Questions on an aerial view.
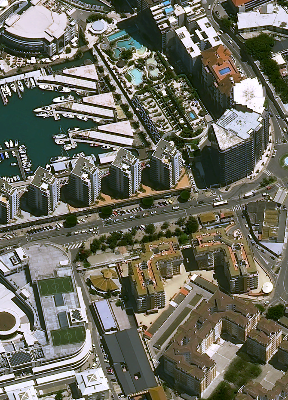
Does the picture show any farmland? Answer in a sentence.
No, no farmland is visible.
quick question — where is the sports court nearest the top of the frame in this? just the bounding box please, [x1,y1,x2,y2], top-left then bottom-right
[38,276,75,298]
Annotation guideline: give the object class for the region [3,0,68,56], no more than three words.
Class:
building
